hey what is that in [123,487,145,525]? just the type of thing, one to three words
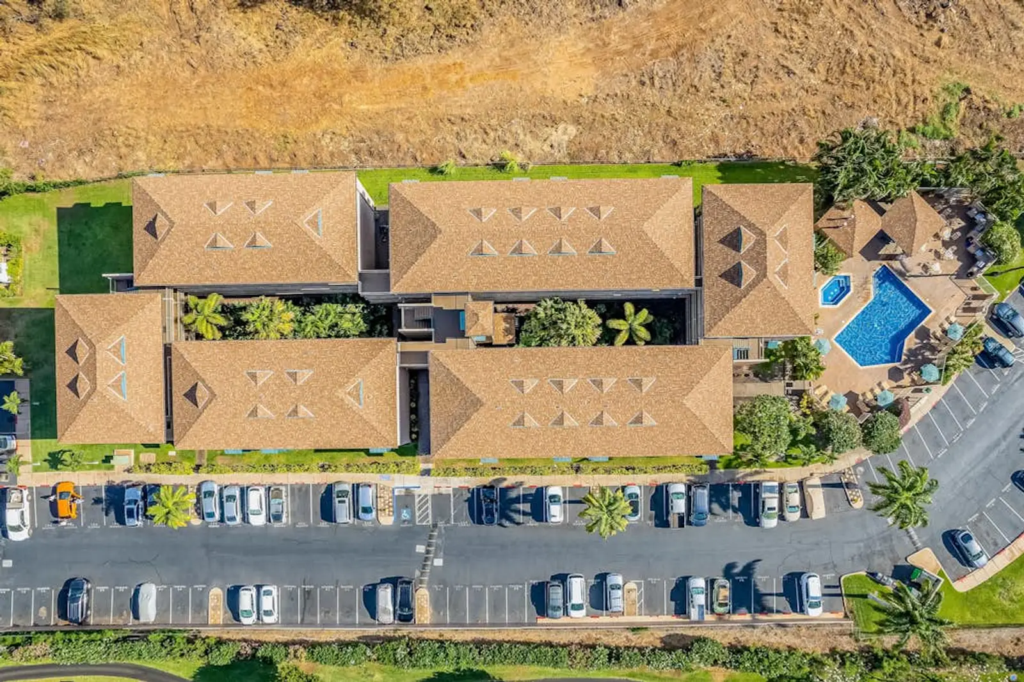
car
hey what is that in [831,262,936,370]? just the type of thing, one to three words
swimming pool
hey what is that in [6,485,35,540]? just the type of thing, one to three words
truck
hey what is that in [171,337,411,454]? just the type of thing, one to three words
building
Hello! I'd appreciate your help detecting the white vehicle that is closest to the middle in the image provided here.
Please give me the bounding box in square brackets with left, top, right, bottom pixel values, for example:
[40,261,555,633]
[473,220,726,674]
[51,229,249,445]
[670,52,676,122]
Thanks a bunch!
[544,485,564,522]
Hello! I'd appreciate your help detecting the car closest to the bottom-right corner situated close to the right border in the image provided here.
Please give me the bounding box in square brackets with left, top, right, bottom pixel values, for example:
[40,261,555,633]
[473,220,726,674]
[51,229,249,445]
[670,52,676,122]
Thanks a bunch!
[949,525,987,569]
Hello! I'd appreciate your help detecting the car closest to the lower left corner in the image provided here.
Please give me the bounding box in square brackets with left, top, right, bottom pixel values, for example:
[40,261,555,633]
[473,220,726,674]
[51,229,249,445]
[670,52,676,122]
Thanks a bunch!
[67,576,94,622]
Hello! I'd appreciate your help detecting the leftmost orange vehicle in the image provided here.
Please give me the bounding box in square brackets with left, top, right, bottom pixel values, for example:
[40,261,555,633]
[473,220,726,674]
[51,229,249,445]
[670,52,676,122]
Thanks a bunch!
[48,481,90,519]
